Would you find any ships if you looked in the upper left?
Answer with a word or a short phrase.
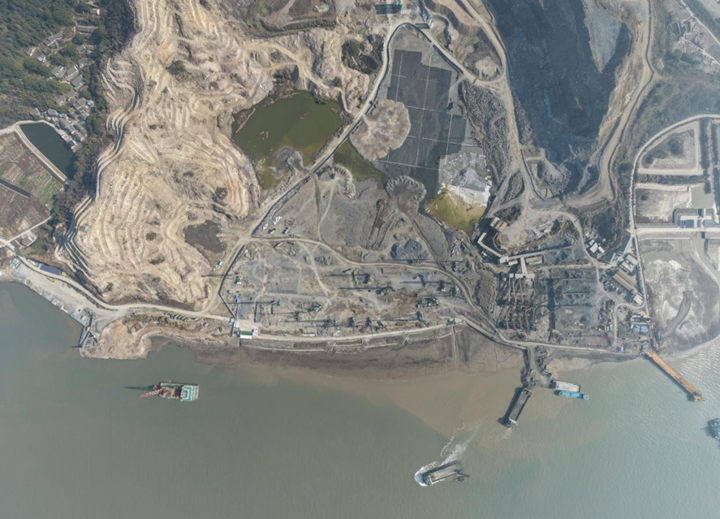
No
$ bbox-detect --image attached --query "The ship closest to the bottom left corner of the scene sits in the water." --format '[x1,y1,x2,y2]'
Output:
[140,383,198,401]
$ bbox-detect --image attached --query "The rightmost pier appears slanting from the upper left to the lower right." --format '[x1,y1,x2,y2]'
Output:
[644,349,702,400]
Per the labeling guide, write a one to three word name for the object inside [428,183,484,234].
pond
